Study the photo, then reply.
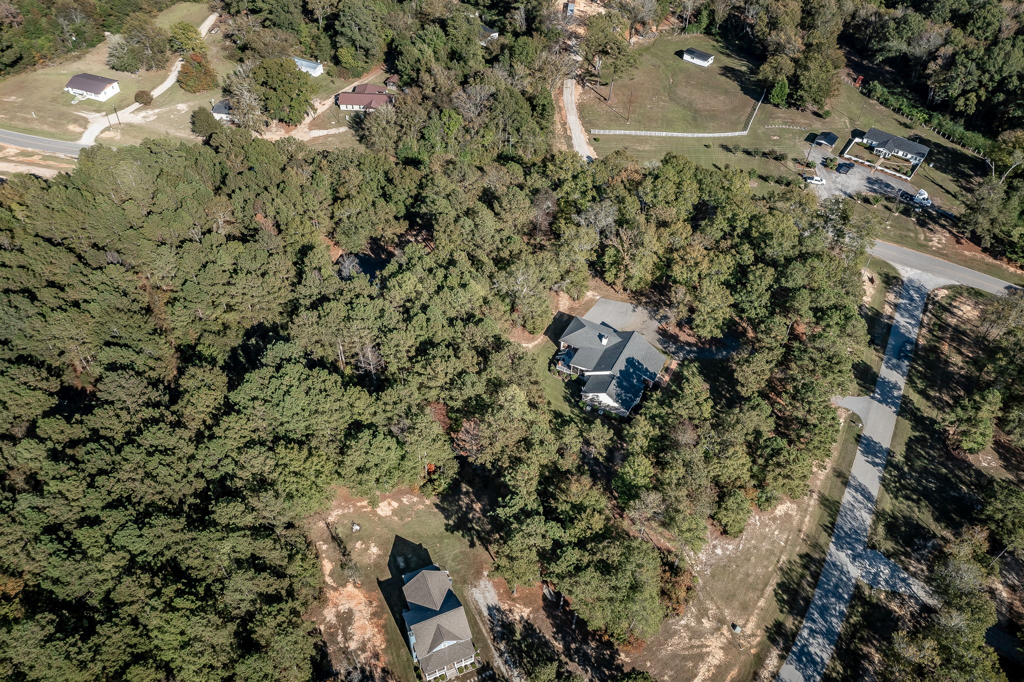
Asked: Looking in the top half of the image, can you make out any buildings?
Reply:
Yes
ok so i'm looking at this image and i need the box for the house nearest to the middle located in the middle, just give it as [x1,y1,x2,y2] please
[554,316,667,423]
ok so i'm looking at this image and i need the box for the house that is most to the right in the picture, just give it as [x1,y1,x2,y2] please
[863,126,934,167]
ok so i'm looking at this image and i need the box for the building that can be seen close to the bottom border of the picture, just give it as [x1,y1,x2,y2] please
[403,562,482,681]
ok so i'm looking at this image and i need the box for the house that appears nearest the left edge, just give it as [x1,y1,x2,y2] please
[65,75,123,103]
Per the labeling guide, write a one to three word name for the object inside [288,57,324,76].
house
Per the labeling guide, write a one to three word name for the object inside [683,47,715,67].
shed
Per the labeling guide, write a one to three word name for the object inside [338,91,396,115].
house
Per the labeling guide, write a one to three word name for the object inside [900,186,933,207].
truck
